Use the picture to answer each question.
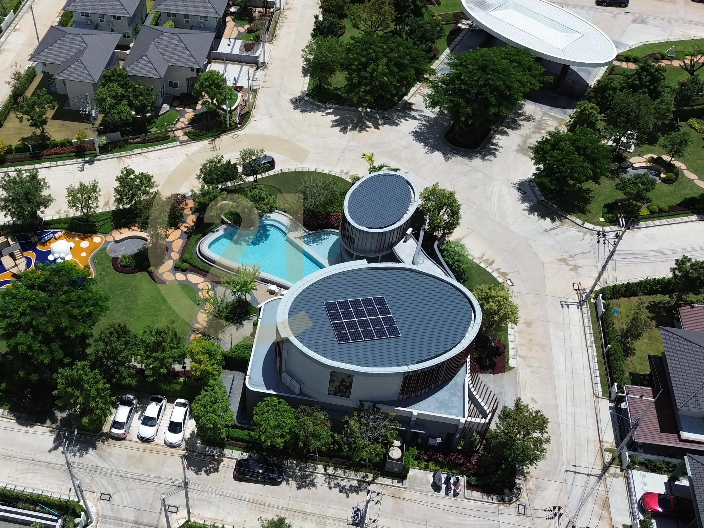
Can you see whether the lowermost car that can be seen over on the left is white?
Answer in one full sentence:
No, the lowermost car that can be seen over on the left is black.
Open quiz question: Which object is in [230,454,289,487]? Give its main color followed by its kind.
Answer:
black car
